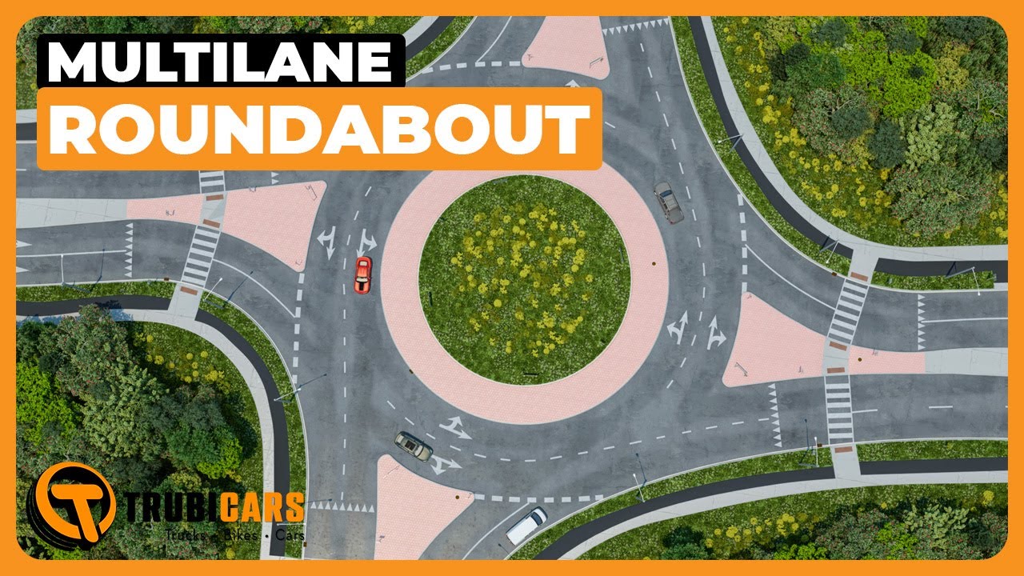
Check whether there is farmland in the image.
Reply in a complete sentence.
No, there is no farmland in the image.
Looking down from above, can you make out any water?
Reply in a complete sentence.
No, there is no water in the image.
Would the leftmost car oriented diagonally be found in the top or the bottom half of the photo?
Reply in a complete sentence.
Seen from above, the leftmost car oriented diagonally lies in the bottom half of the view.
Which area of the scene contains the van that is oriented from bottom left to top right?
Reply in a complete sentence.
The van that is oriented from bottom left to top right appears toward the bottom of the photo.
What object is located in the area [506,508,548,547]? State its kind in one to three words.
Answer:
van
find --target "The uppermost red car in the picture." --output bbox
[354,257,372,295]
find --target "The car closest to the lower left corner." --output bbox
[395,430,432,462]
